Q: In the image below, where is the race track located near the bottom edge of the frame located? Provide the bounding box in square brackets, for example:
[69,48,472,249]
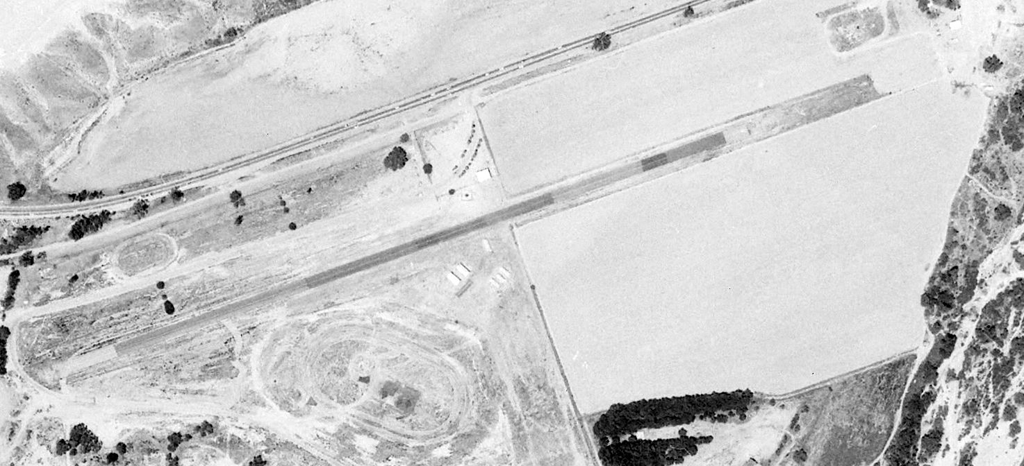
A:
[304,323,467,446]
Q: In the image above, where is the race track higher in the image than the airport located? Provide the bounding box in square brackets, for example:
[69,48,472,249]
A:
[823,2,891,57]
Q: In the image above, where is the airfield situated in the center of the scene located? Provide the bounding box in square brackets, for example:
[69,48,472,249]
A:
[67,75,889,383]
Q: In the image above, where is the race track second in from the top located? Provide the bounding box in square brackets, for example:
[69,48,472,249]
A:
[115,233,180,276]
